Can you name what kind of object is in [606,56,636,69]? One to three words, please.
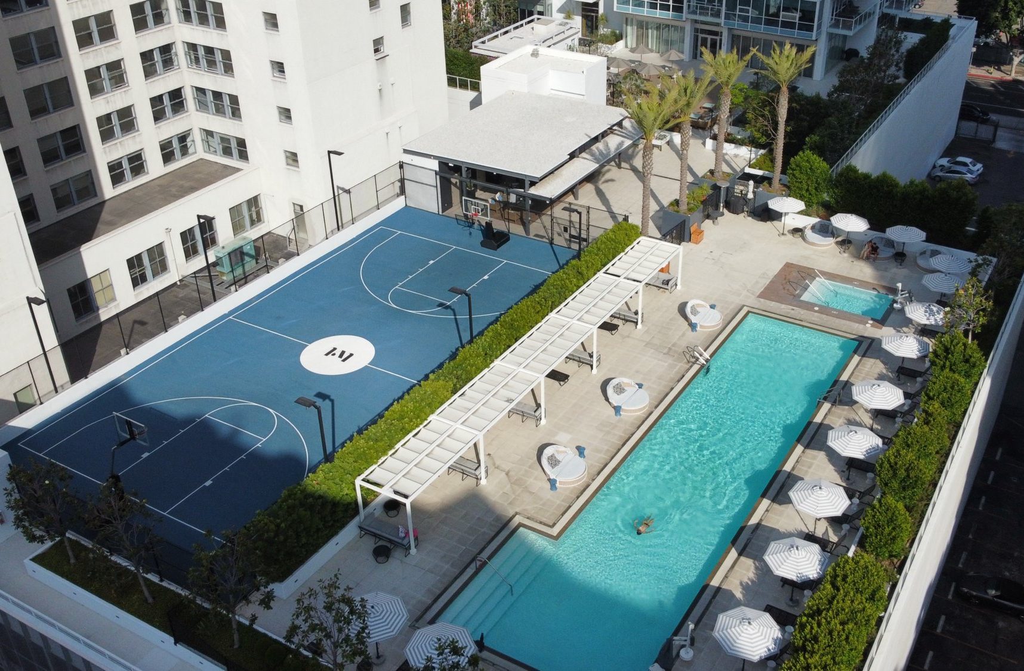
umbrella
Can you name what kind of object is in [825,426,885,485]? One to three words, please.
umbrella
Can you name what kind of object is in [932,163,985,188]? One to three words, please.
car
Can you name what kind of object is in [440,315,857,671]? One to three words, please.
swimming pool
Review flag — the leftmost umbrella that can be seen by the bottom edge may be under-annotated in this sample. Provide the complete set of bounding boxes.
[349,592,417,665]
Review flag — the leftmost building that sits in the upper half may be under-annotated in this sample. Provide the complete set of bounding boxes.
[0,0,448,424]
